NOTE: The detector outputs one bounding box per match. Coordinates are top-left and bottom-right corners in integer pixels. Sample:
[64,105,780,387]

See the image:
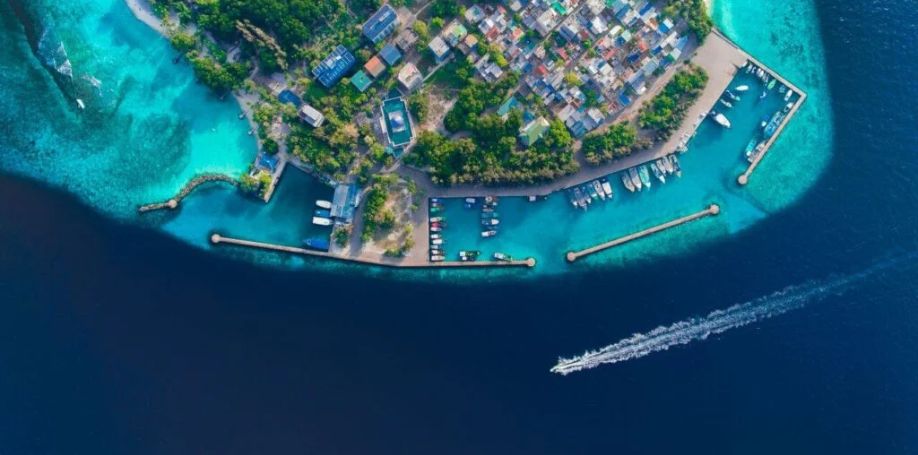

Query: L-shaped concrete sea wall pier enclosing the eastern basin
[732,42,806,188]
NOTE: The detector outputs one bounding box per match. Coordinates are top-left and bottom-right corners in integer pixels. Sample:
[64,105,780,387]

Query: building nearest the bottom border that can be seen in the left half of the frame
[330,183,364,225]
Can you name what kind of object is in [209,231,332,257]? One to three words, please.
pier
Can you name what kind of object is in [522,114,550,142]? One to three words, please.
house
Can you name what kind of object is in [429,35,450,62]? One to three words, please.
building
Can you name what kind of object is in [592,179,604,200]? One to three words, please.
boat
